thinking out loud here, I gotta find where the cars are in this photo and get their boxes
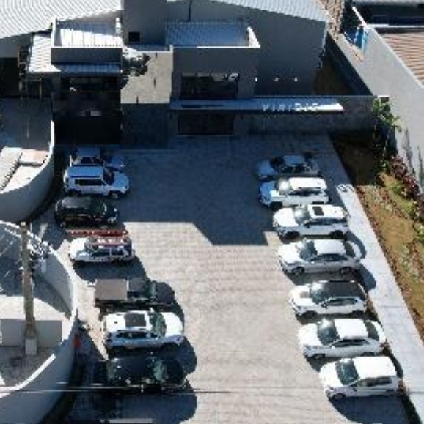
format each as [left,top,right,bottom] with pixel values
[67,229,138,265]
[66,165,127,198]
[274,203,350,239]
[287,276,374,318]
[258,176,329,209]
[280,242,362,276]
[317,357,407,400]
[99,351,187,397]
[254,152,322,178]
[102,309,186,354]
[71,144,125,171]
[92,271,180,312]
[295,319,390,360]
[54,197,121,232]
